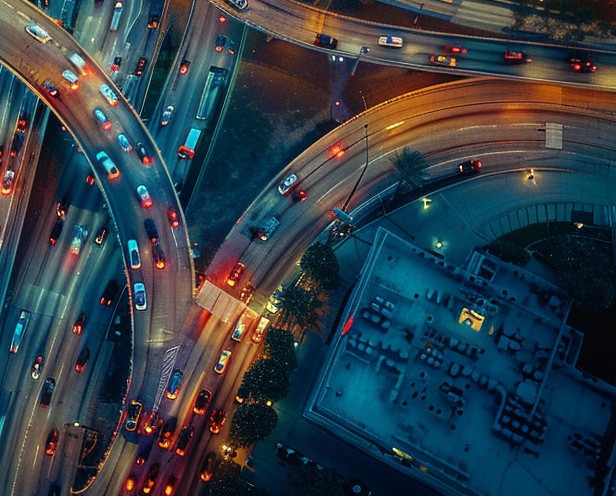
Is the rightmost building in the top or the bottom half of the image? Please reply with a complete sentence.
You can find the rightmost building in the bottom half.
